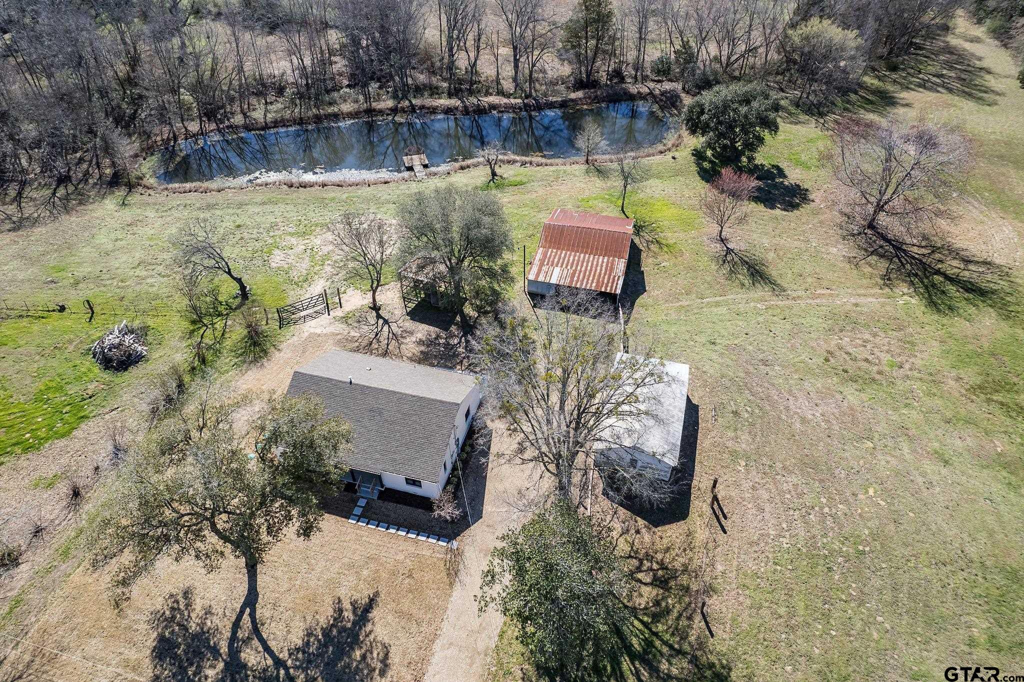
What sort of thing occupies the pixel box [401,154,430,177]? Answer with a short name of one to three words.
pier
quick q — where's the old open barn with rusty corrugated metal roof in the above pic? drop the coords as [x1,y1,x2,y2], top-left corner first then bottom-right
[528,209,636,307]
